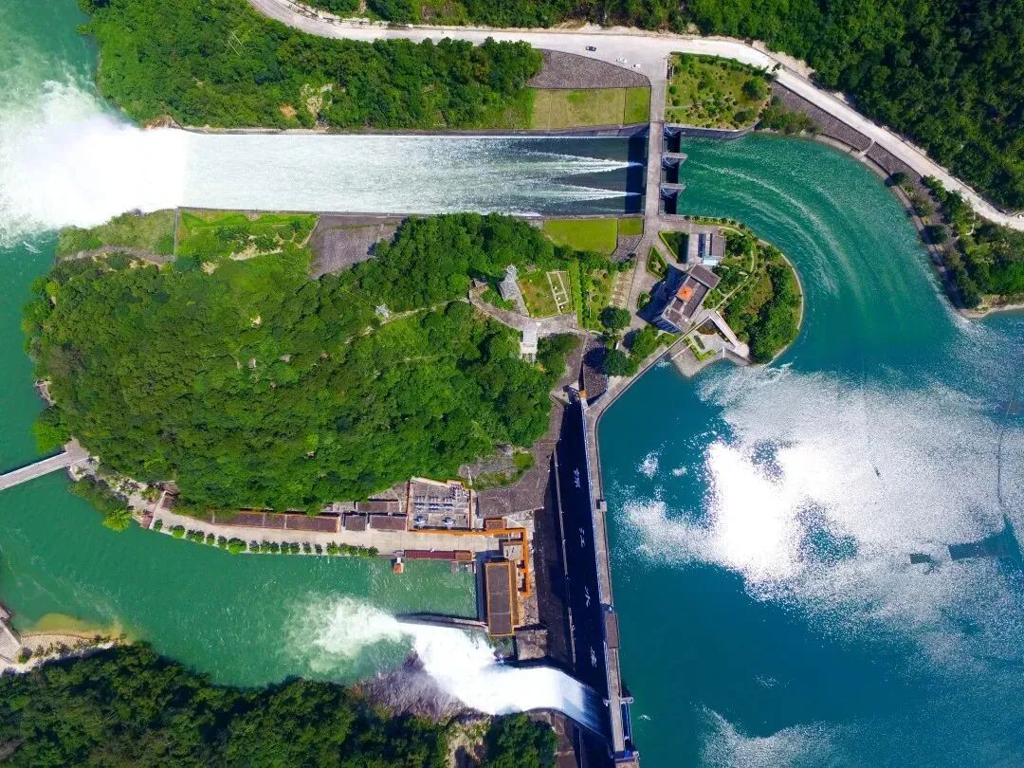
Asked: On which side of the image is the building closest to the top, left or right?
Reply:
right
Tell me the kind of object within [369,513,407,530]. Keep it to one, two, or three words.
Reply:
building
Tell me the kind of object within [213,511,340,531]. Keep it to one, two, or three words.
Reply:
building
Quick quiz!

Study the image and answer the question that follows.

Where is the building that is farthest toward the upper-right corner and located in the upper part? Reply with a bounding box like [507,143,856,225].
[683,234,726,266]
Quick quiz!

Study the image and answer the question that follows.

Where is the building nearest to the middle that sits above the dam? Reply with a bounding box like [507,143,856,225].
[520,330,539,366]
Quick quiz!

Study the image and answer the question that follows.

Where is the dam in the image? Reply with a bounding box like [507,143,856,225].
[524,400,645,768]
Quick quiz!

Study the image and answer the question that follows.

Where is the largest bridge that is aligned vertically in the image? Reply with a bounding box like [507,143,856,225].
[642,123,688,220]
